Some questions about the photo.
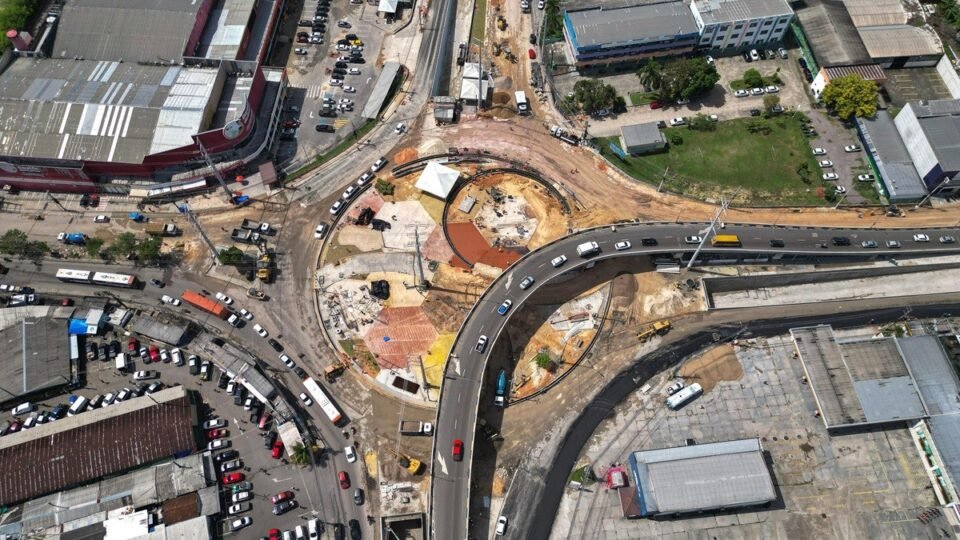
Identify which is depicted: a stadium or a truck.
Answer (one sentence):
Looking from above, you can make out a truck.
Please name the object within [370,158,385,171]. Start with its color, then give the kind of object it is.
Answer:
white vehicle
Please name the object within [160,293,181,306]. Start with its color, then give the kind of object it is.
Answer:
white vehicle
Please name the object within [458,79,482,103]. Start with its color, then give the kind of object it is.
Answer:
white tent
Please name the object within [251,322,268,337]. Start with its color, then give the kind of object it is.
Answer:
white car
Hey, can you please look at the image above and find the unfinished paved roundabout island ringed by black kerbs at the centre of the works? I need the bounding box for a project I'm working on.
[312,154,612,413]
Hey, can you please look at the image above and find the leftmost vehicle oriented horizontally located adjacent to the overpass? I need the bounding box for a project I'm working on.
[398,420,433,434]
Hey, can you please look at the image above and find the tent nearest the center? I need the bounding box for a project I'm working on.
[415,162,460,199]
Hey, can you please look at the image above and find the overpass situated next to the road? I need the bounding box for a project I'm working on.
[432,218,960,540]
